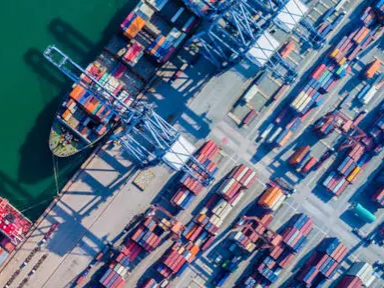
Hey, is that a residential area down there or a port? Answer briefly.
port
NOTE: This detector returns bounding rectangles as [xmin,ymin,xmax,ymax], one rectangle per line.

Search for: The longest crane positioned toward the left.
[41,40,217,185]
